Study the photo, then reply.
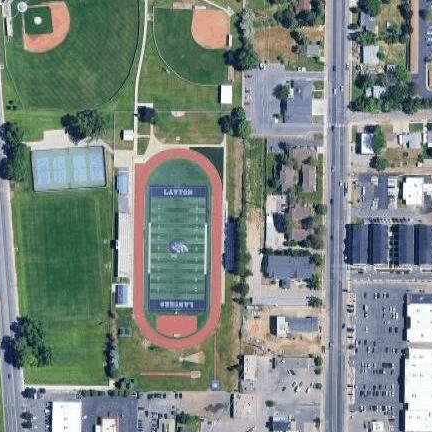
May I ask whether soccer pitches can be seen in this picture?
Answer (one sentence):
Yes, you can see a soccer pitch in this photo.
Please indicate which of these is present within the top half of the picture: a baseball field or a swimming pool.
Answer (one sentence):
What appears within the top half of the picture is a baseball field.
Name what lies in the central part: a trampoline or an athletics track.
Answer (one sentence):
What appears in the central part is an athletics track.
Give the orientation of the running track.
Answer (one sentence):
In this picture, the running track lies from top to bottom.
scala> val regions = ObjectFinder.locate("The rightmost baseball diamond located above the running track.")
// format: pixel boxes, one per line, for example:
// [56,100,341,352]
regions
[153,8,231,85]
